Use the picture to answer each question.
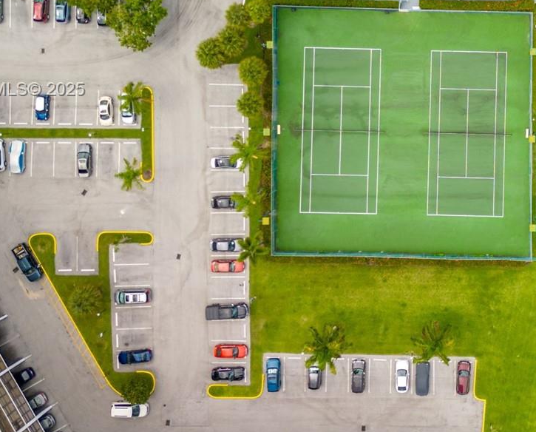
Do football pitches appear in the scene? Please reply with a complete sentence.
No, no football pitch can be seen from above.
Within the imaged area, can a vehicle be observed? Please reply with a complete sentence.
Yes, there's a vehicle here.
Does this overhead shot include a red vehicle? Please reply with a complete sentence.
Yes, a red vehicle is visible in the scene.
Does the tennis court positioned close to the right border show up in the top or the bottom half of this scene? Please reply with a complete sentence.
Seen from above, the tennis court positioned close to the right border lies in the top half of the view.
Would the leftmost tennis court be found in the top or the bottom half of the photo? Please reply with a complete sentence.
It is in the top half that the leftmost tennis court appears.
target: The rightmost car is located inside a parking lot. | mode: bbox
[455,359,471,394]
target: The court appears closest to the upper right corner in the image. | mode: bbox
[426,50,513,217]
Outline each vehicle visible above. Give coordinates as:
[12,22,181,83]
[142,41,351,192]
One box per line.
[111,401,148,419]
[119,348,154,365]
[96,1,111,28]
[213,195,243,210]
[266,357,281,390]
[120,94,137,126]
[54,0,72,25]
[34,0,51,22]
[307,362,321,390]
[99,96,114,125]
[210,155,245,170]
[210,259,246,275]
[76,142,94,176]
[0,139,6,172]
[34,92,51,120]
[13,365,38,386]
[215,343,247,359]
[394,358,409,392]
[13,243,43,281]
[27,390,53,410]
[76,0,92,25]
[455,359,471,394]
[207,304,248,320]
[117,289,151,305]
[351,358,365,392]
[211,237,246,253]
[213,366,245,382]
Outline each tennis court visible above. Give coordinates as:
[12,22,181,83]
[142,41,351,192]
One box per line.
[426,50,513,217]
[295,46,386,215]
